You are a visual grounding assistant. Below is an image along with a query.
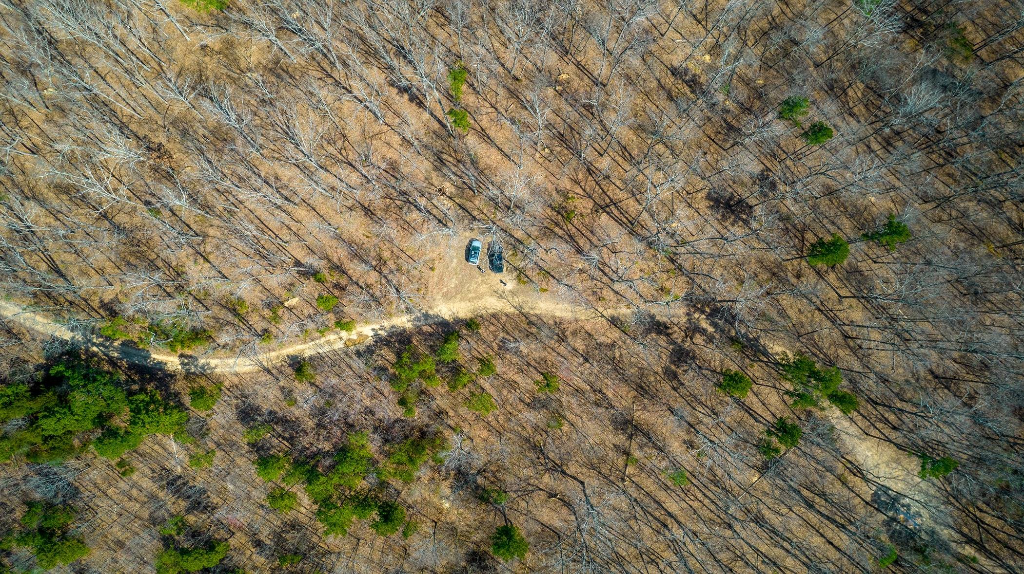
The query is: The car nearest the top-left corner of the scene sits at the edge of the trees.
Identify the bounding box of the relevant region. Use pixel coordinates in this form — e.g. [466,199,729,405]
[468,238,481,266]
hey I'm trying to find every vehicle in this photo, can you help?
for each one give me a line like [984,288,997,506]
[491,241,505,274]
[468,238,481,266]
